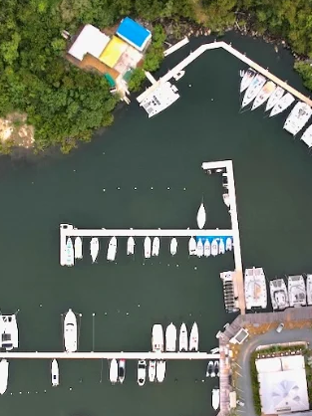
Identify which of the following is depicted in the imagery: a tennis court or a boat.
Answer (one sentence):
I can see a boat in this picture.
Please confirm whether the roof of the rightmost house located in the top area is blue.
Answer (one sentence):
Yes, the roof of the rightmost house located in the top area appears blue.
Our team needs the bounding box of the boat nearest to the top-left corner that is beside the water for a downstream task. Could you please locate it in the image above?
[116,75,131,104]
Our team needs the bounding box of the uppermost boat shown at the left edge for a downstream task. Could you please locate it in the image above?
[0,315,19,349]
